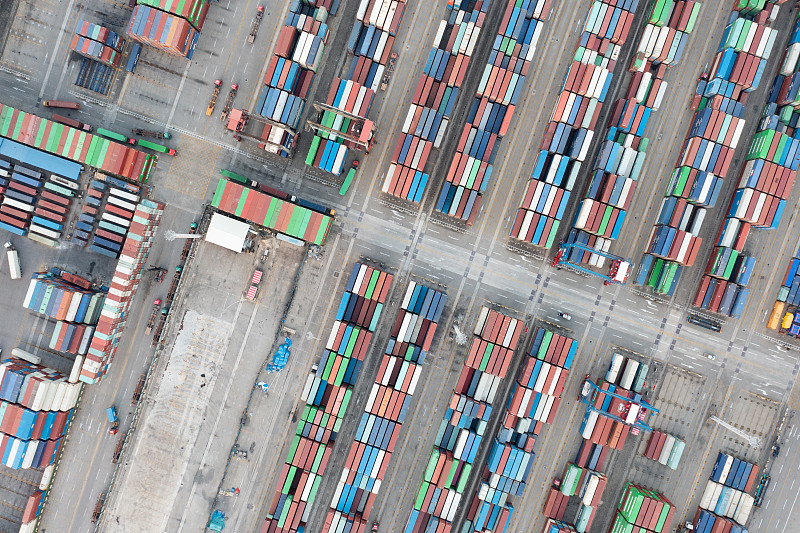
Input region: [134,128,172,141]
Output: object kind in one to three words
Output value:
vehicle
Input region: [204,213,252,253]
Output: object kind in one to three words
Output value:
shed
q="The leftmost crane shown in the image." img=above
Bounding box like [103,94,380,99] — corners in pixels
[222,104,302,166]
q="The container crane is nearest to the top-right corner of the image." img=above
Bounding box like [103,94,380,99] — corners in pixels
[549,234,635,290]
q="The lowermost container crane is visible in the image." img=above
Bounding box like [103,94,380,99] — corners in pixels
[575,370,661,434]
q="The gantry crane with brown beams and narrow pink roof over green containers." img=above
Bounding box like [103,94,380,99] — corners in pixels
[304,96,378,160]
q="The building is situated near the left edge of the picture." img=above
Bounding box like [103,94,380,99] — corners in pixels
[0,138,88,181]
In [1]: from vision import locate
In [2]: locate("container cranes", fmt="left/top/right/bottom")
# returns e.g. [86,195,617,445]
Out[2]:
[222,104,302,166]
[575,370,661,434]
[304,96,378,160]
[549,234,635,290]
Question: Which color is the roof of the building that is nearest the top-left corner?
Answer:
blue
